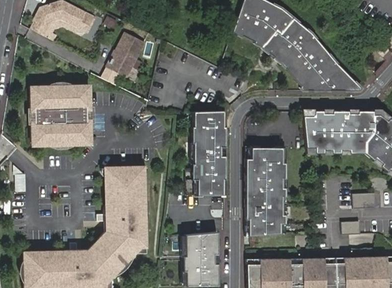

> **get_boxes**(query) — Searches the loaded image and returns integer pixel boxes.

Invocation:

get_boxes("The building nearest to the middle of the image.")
[192,112,228,196]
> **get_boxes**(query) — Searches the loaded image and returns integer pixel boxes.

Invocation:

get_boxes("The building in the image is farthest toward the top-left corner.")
[32,0,96,40]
